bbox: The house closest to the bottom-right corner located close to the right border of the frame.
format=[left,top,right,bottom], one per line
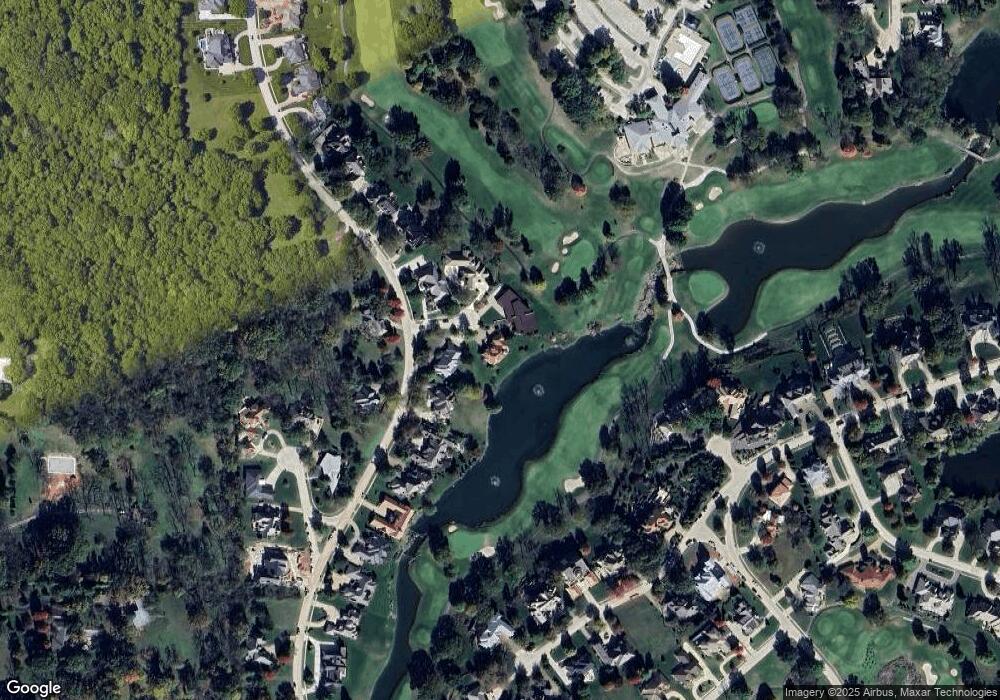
[964,599,1000,637]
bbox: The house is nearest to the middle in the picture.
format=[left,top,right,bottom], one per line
[480,335,511,367]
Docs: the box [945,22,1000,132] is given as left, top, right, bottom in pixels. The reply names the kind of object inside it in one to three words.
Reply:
pond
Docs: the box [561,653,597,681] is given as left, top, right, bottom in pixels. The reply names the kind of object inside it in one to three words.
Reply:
house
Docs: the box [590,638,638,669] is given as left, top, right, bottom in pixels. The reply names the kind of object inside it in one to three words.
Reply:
house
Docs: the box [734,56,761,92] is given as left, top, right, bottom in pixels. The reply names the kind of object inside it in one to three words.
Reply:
tennis court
